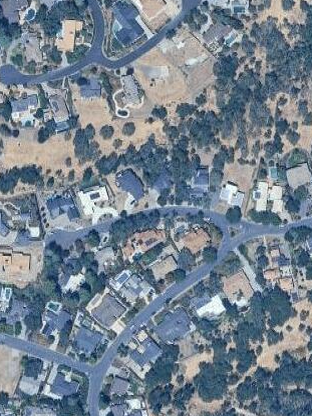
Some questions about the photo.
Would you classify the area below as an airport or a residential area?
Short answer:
residential area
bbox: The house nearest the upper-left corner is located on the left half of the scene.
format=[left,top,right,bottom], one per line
[2,0,32,23]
